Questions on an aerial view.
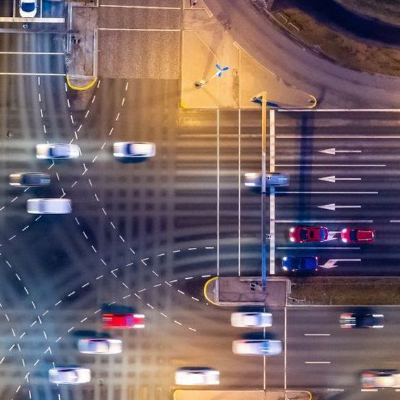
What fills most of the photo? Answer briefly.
paved ground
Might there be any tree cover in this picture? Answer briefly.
No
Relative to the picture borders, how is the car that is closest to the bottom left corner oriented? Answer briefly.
horizontally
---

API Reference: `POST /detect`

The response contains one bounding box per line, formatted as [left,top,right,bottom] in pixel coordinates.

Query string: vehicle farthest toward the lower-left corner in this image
[49,365,90,385]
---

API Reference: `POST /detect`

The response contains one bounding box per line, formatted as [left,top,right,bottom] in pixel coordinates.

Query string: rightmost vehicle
[362,369,400,388]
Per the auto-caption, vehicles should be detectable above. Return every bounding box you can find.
[362,369,400,388]
[340,225,375,245]
[49,365,90,385]
[102,311,143,330]
[113,141,155,159]
[27,196,70,215]
[10,170,51,188]
[230,310,270,329]
[36,141,79,160]
[341,310,382,329]
[78,336,121,355]
[282,254,320,273]
[19,0,38,18]
[289,225,329,244]
[233,337,280,356]
[176,367,219,386]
